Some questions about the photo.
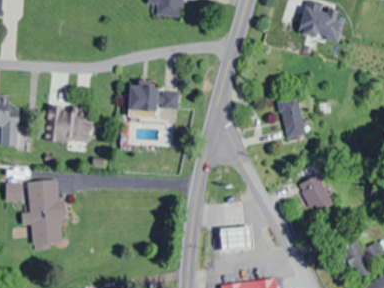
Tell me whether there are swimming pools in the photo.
Yes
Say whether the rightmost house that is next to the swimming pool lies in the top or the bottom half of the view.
top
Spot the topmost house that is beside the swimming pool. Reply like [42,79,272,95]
[129,82,180,110]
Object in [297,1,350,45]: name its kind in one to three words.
house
